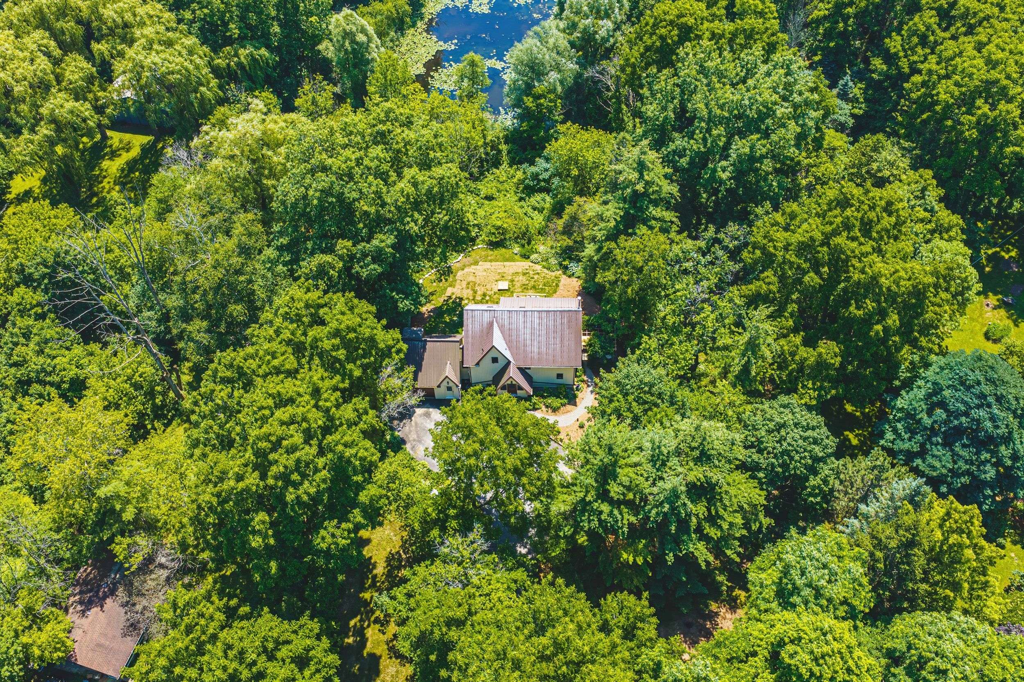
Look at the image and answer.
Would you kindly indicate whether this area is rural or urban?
rural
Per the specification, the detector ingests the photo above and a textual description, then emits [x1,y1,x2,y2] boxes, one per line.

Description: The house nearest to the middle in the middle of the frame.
[460,294,583,400]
